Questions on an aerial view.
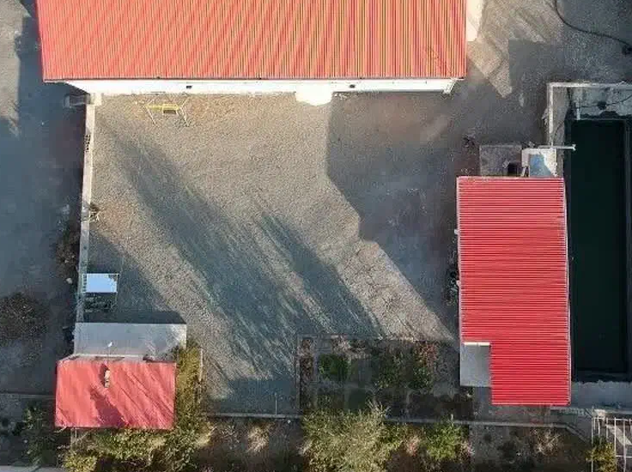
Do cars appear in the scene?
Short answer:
No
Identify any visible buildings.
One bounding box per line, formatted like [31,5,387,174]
[55,318,196,429]
[454,176,571,405]
[34,0,469,93]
